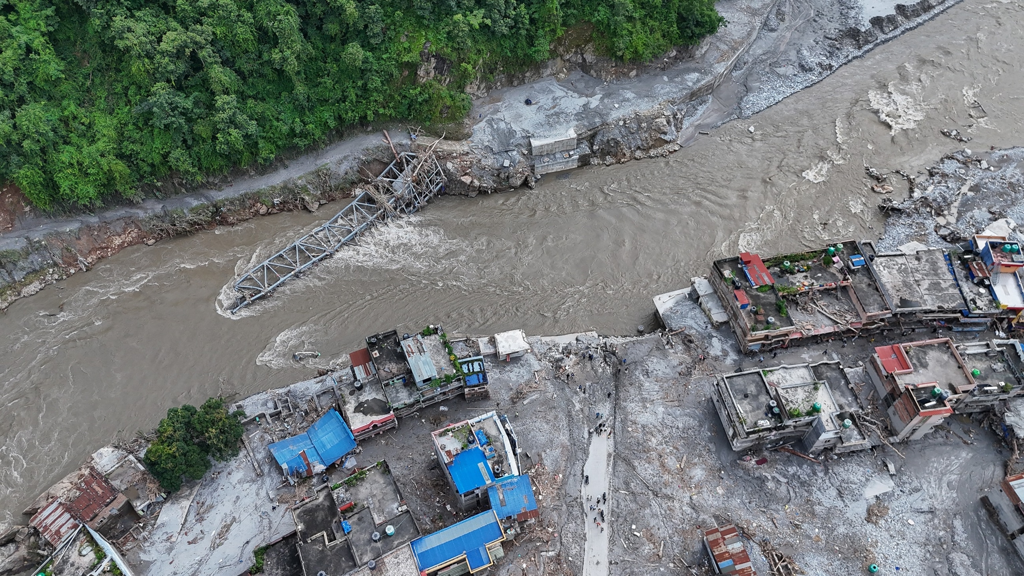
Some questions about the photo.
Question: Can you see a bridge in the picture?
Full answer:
Yes, I can see a bridge in this picture.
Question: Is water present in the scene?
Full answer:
Yes, the picture does contain water.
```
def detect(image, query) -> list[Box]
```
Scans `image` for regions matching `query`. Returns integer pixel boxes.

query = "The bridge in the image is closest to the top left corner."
[230,151,447,314]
